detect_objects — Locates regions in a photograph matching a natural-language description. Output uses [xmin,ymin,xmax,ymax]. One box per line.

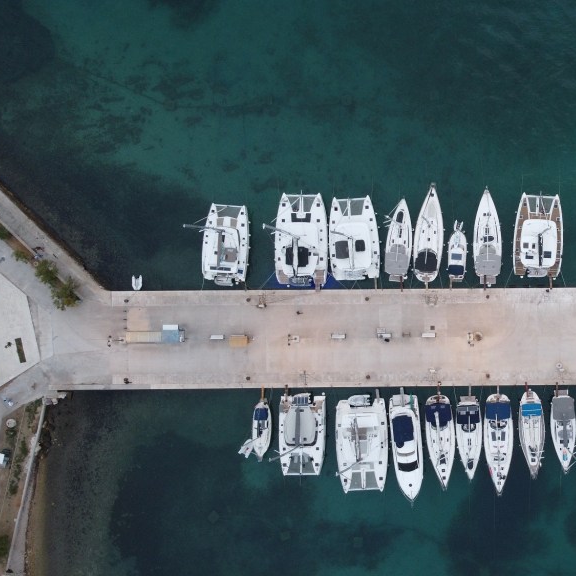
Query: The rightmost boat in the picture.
[549,382,576,475]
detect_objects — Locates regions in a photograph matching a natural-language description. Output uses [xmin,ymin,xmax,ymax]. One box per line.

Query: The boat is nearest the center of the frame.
[287,274,312,288]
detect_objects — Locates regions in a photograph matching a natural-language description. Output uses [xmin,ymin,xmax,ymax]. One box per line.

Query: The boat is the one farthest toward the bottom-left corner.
[236,439,254,459]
